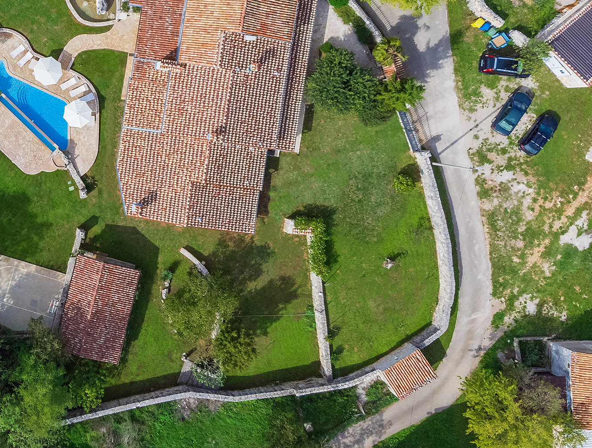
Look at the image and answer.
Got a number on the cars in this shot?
three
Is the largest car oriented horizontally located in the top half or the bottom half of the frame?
top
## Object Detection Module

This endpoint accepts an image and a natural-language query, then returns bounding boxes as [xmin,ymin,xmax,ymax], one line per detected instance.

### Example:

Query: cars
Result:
[475,54,528,78]
[517,110,554,158]
[490,88,528,136]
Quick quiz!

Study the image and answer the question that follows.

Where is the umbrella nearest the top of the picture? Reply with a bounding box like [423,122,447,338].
[33,57,62,86]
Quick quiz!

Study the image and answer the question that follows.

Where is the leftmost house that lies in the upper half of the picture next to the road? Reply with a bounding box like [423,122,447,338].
[115,0,320,236]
